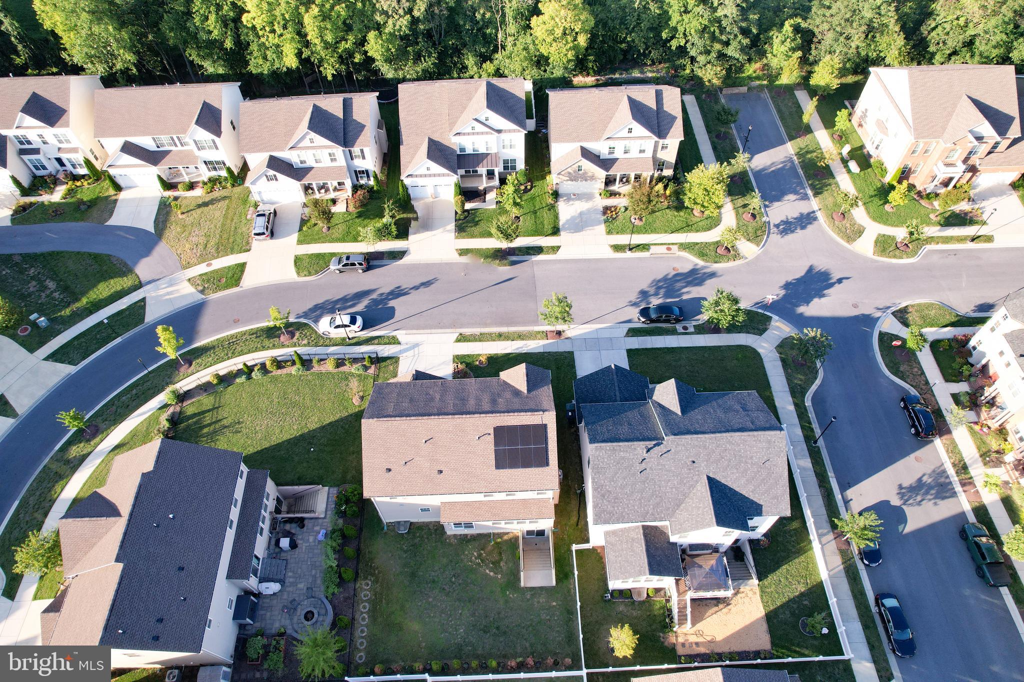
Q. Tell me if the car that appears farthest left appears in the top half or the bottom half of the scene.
top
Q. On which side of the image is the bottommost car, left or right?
right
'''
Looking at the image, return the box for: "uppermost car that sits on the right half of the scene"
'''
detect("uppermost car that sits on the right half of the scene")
[637,304,683,324]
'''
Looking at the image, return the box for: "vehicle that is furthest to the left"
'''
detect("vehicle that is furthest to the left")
[254,207,275,236]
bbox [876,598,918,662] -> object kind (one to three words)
car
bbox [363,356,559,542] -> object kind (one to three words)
house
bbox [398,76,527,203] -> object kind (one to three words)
house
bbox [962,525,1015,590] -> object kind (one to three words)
truck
